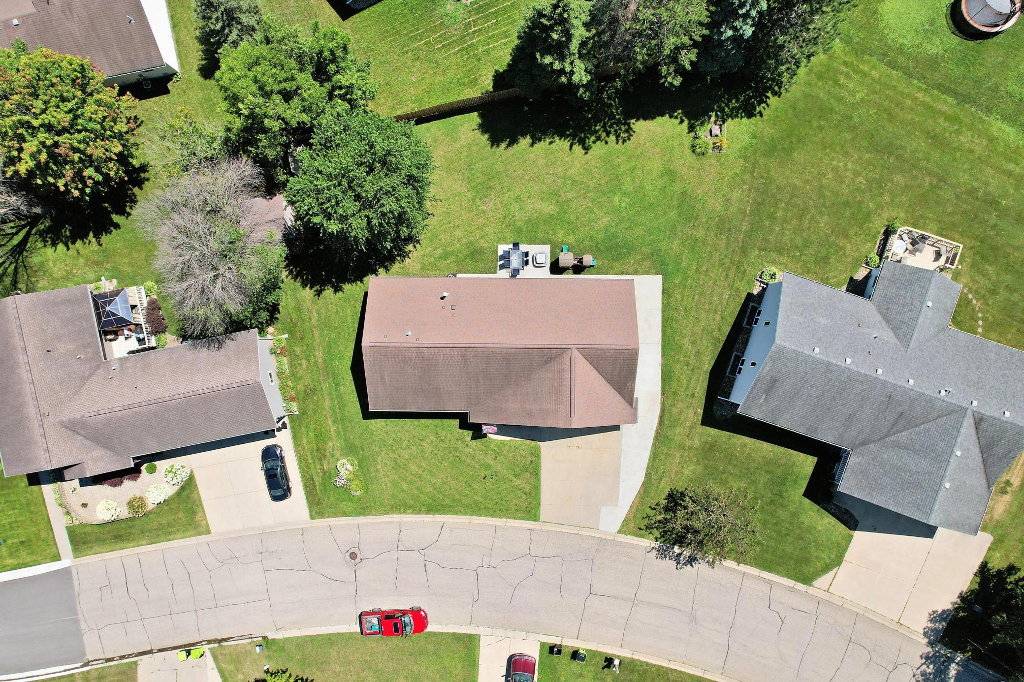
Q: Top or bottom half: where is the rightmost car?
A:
bottom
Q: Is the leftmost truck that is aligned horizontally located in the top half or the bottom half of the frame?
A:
bottom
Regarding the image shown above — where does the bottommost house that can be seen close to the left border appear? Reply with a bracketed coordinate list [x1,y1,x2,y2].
[0,285,302,480]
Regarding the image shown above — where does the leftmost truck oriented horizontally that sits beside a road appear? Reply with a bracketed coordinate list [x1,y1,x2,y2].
[358,606,429,639]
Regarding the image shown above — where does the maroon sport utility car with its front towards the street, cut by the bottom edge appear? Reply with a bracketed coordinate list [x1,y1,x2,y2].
[510,652,538,682]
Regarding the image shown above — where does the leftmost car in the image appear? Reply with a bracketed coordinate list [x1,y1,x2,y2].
[259,444,293,504]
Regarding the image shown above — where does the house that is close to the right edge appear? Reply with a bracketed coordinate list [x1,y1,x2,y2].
[711,259,1024,537]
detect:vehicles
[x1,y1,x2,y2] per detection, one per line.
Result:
[259,444,293,504]
[510,652,538,682]
[358,606,429,639]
